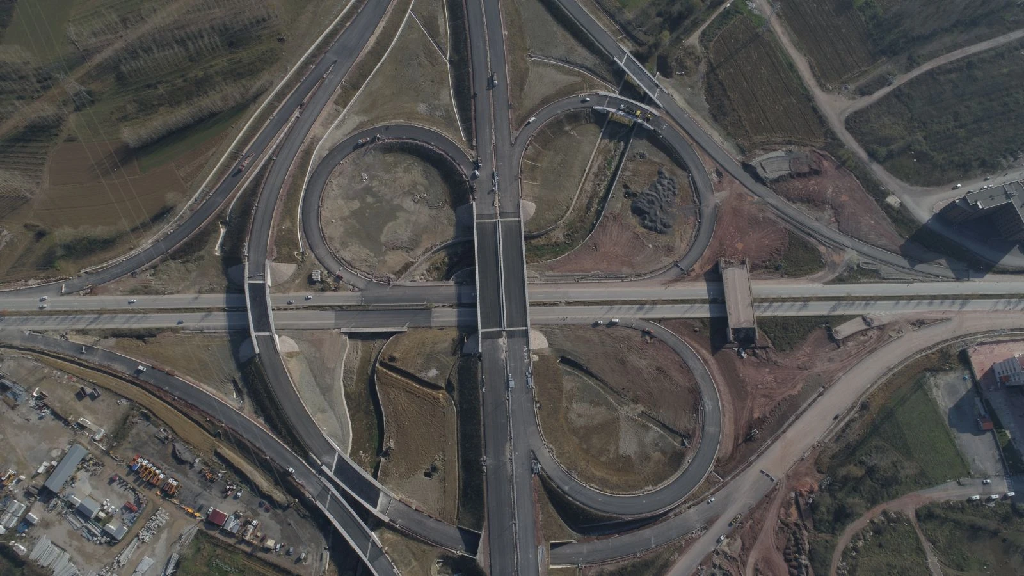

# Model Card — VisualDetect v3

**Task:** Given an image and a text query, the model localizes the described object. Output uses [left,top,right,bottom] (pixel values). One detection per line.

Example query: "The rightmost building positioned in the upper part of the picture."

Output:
[943,179,1024,243]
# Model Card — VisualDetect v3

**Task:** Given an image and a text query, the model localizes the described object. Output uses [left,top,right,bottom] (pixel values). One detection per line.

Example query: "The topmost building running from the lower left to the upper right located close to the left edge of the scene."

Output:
[44,445,94,493]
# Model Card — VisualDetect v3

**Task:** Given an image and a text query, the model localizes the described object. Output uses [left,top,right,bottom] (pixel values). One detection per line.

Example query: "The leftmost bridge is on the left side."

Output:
[245,260,281,354]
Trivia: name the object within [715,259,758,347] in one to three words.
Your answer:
bridge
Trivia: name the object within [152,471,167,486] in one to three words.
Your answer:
vehicle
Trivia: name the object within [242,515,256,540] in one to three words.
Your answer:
vehicle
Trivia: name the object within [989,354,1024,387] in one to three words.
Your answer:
building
